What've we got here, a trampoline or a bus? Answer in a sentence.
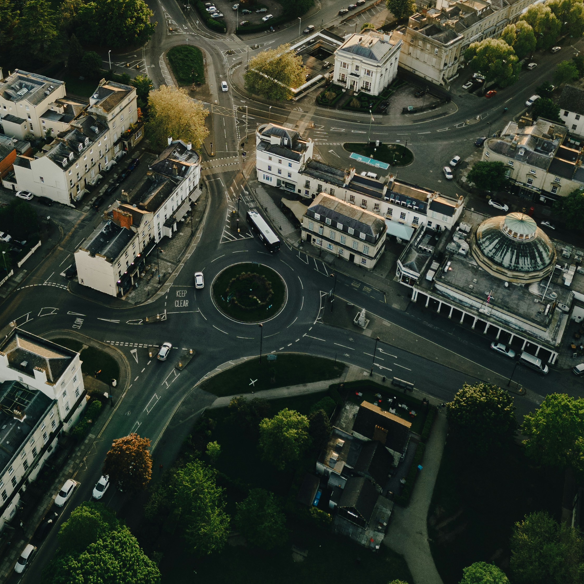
This aerial view contains a bus.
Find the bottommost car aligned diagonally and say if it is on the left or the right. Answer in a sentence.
The bottommost car aligned diagonally appears in the left half of the scene.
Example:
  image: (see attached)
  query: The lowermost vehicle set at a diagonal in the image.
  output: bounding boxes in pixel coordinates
[13,541,39,576]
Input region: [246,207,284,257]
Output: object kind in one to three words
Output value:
bus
